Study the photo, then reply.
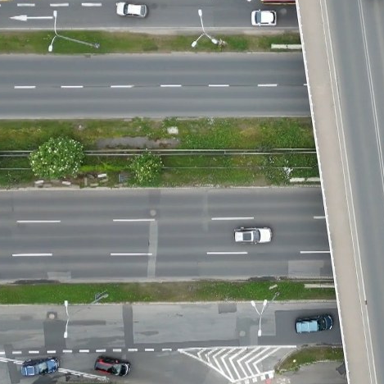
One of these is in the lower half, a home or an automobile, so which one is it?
automobile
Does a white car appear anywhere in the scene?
Yes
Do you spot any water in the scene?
No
